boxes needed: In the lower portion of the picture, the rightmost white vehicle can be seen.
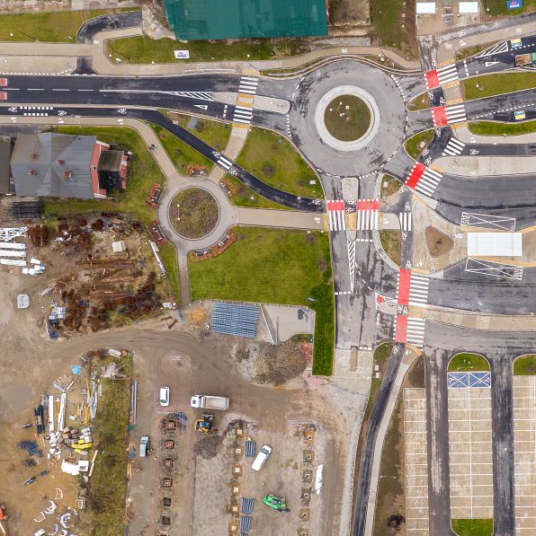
[252,446,271,471]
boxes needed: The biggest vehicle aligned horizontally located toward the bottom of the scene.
[188,395,230,410]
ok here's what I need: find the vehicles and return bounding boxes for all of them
[252,446,271,471]
[194,410,212,441]
[262,496,292,514]
[188,395,230,410]
[159,386,171,405]
[513,51,536,66]
[138,435,151,458]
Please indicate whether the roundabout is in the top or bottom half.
top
